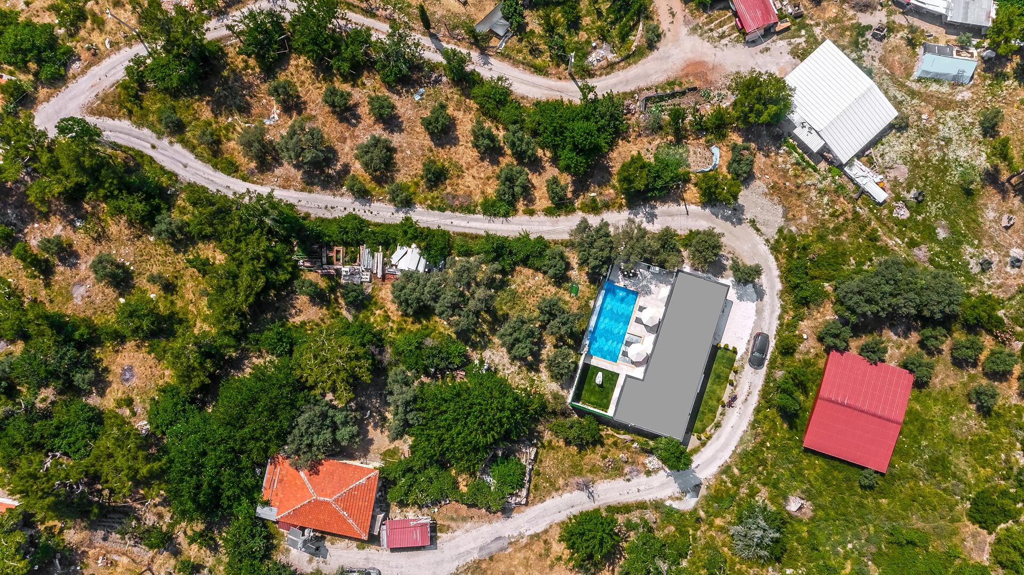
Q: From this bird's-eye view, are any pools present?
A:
Yes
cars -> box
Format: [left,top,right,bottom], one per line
[345,566,382,575]
[747,332,769,369]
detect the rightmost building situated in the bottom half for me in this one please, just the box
[802,351,912,473]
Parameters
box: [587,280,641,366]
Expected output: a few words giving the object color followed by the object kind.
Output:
blue swimming pool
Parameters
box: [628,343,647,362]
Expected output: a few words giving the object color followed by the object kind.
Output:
white umbrella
